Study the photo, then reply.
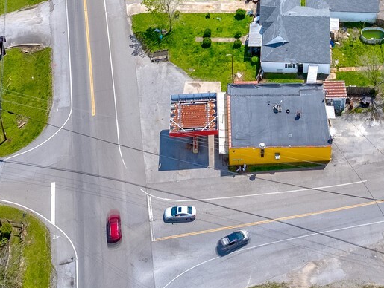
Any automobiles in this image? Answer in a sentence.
Yes, the picture does show an automobile.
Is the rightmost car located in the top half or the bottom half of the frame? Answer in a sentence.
It is in the bottom half that the rightmost car appears.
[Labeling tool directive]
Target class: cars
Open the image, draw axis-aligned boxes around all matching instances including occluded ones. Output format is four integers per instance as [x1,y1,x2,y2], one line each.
[216,230,251,252]
[105,210,120,244]
[163,204,195,221]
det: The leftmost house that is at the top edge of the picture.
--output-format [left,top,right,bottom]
[248,0,340,84]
